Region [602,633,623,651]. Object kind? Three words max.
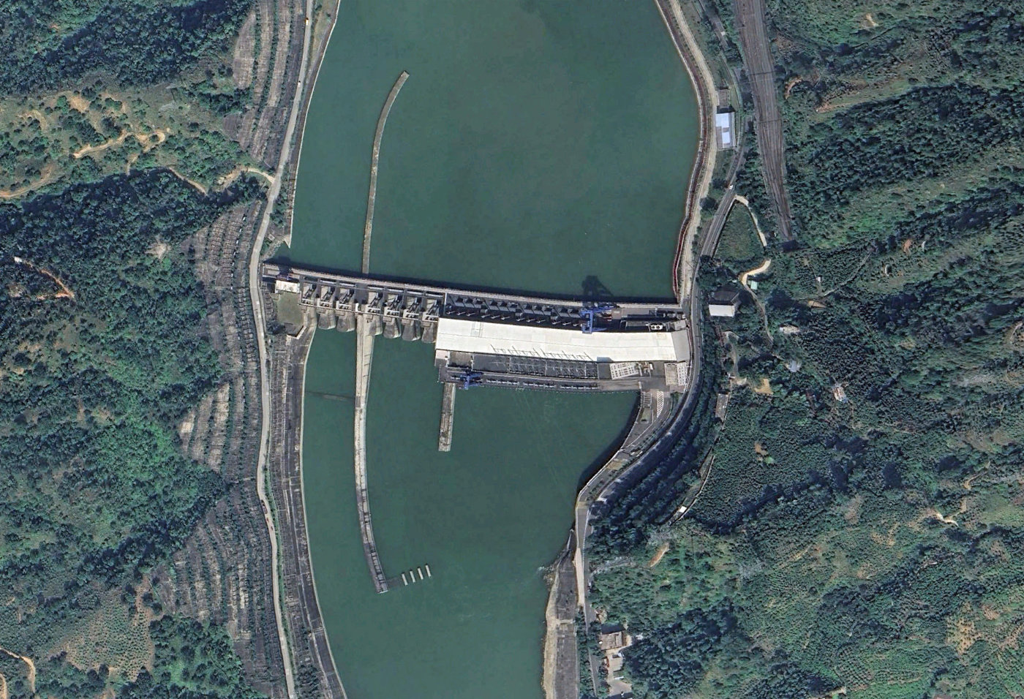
building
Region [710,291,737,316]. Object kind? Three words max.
building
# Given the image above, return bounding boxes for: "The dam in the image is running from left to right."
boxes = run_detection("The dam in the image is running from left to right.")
[262,264,689,344]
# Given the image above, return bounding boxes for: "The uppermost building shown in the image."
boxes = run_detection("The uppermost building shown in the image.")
[716,112,736,147]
